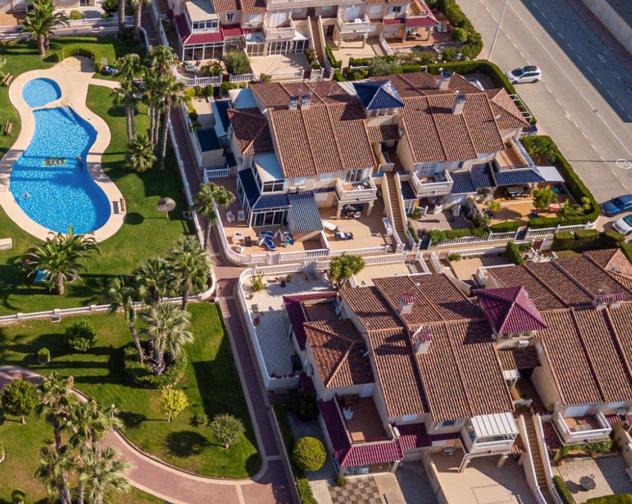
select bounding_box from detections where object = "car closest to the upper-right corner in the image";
[507,67,547,85]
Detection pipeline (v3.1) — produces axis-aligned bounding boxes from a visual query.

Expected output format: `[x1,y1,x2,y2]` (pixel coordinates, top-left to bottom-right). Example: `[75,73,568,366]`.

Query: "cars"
[614,213,632,234]
[603,196,632,218]
[507,67,547,85]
